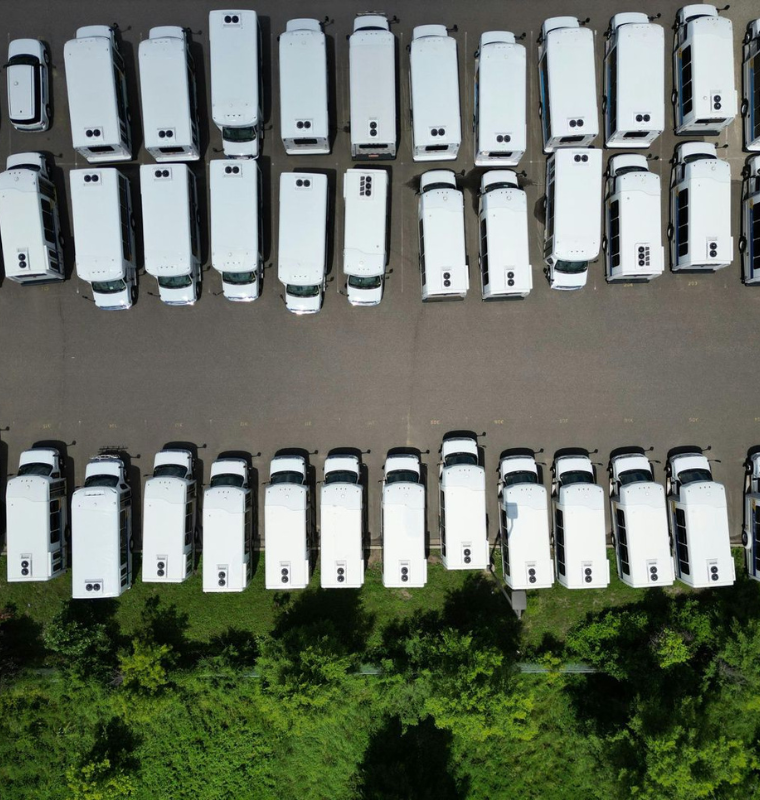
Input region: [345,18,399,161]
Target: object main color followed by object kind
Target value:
white vehicle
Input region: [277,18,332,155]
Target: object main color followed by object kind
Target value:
white vehicle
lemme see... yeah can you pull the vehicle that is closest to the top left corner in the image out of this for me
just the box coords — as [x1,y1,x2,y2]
[2,40,53,133]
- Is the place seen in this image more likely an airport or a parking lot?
parking lot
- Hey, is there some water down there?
No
